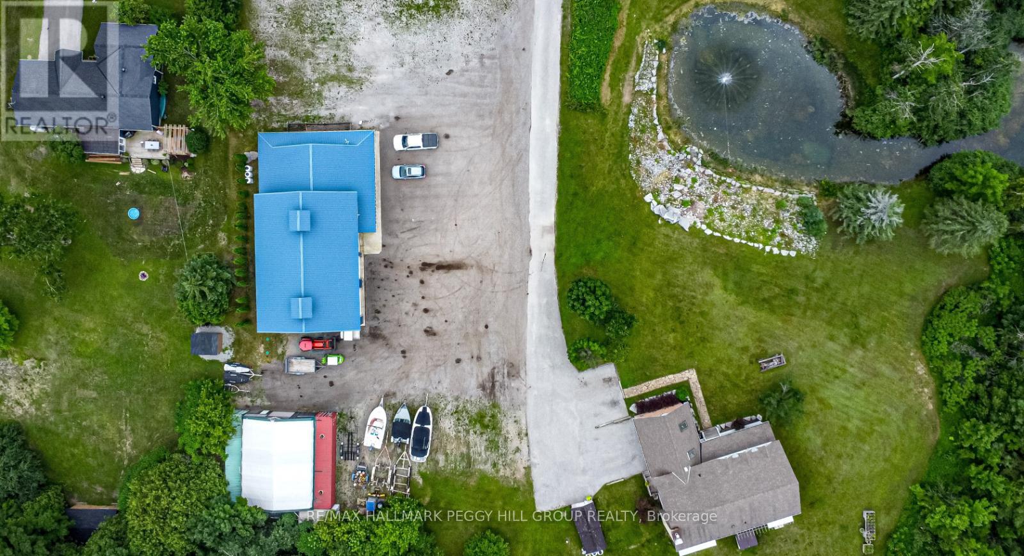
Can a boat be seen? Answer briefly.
Yes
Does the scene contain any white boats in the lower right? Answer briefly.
No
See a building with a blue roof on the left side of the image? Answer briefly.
Yes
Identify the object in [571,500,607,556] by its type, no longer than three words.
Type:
shed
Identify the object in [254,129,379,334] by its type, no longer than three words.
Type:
building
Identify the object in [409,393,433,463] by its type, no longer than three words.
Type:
boat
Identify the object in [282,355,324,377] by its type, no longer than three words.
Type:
trailer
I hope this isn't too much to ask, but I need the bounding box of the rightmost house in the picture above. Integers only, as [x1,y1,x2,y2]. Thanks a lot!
[633,400,802,556]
